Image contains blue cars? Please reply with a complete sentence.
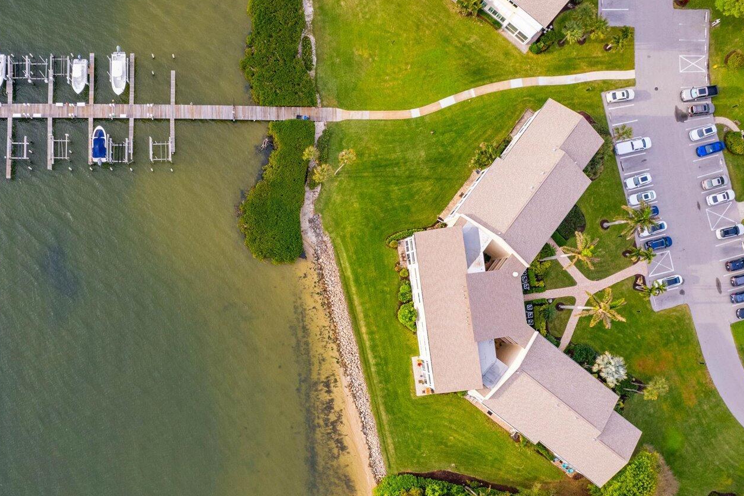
Yes, the frame does contain a blue car.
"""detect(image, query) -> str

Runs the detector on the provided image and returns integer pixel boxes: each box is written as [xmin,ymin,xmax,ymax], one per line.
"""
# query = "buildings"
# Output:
[404,99,641,488]
[477,0,567,55]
